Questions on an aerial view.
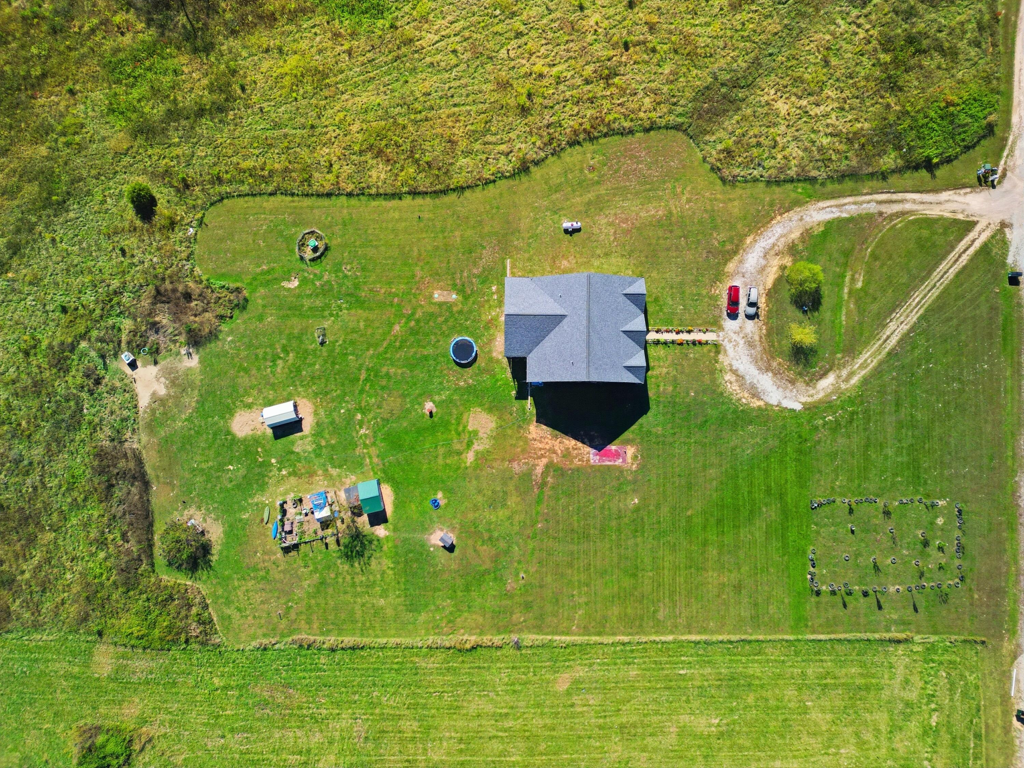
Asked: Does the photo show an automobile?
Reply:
Yes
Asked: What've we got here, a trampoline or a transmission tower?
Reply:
trampoline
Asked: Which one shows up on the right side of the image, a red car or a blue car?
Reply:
red car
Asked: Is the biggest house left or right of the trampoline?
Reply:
on its right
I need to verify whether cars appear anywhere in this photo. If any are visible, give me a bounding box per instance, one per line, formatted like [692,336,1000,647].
[742,285,759,316]
[726,285,742,313]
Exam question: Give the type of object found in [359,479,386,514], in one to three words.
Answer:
shed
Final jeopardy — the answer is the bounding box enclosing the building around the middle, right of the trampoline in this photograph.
[504,272,647,383]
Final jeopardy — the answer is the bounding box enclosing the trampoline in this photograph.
[450,337,476,362]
